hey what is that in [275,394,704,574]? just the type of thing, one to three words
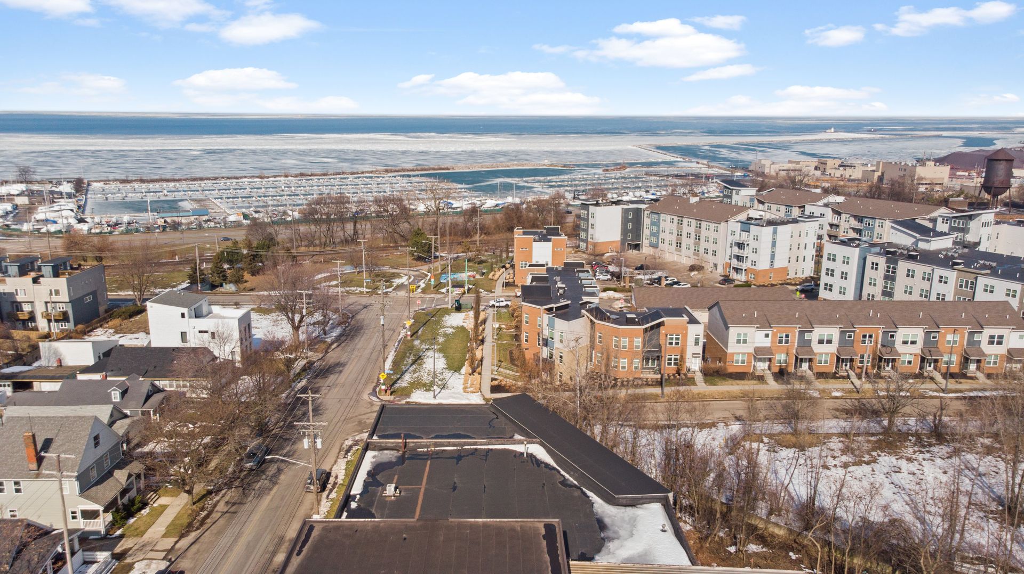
building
